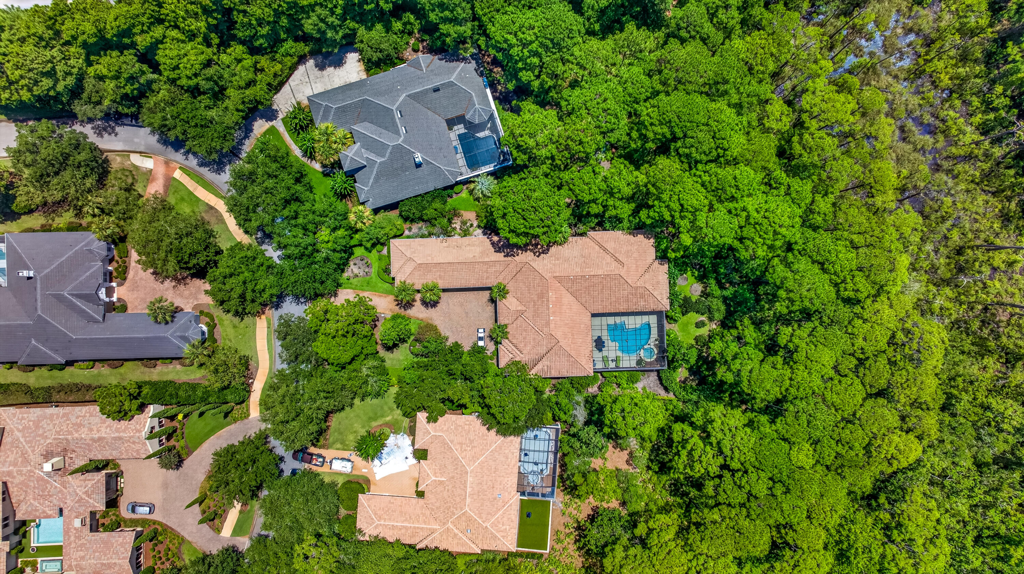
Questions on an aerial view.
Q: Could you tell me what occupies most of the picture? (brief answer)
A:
trees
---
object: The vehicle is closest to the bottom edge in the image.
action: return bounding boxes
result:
[126,501,156,516]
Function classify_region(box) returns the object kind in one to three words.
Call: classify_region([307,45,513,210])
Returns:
house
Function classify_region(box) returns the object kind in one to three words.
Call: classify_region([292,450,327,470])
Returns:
vehicle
